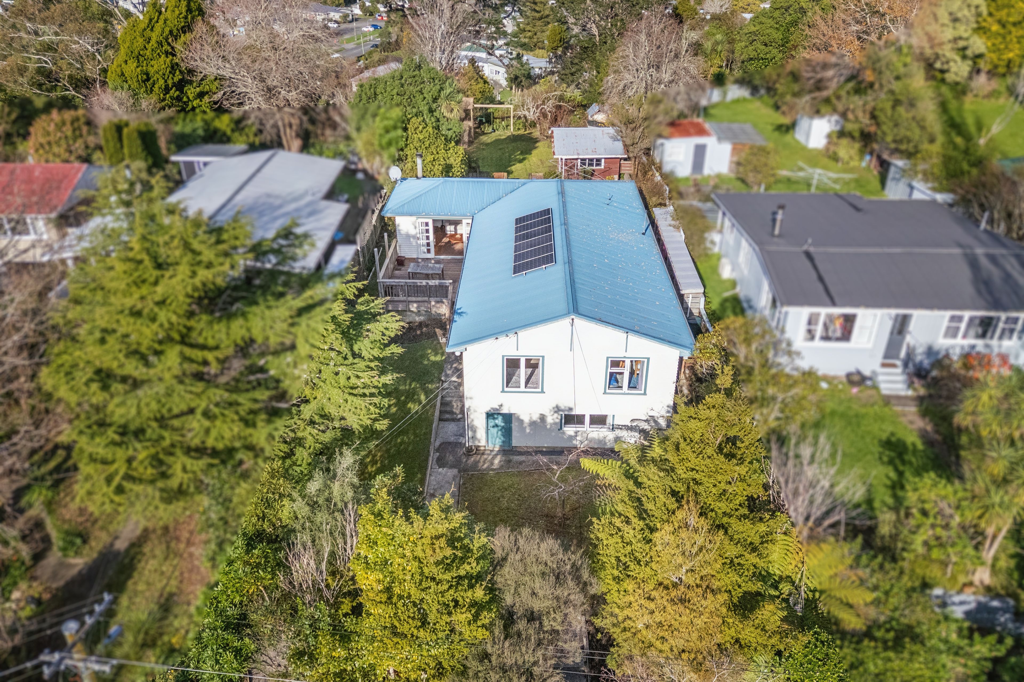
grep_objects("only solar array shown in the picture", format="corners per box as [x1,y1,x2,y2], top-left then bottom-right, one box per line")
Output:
[511,207,552,277]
